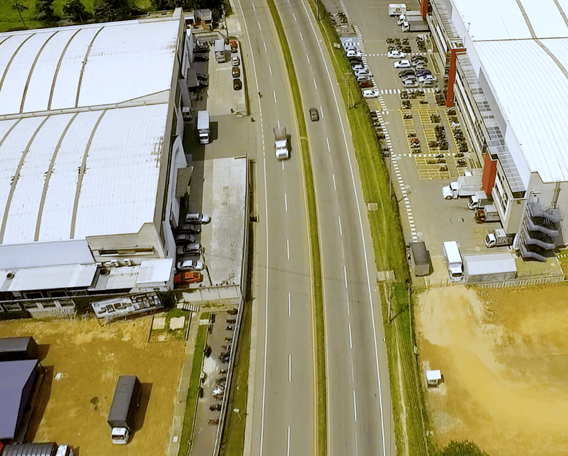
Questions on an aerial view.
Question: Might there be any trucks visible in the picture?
Yes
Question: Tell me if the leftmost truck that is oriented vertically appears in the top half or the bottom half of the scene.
bottom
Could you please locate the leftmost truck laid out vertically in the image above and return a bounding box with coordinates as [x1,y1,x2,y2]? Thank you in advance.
[105,376,145,446]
